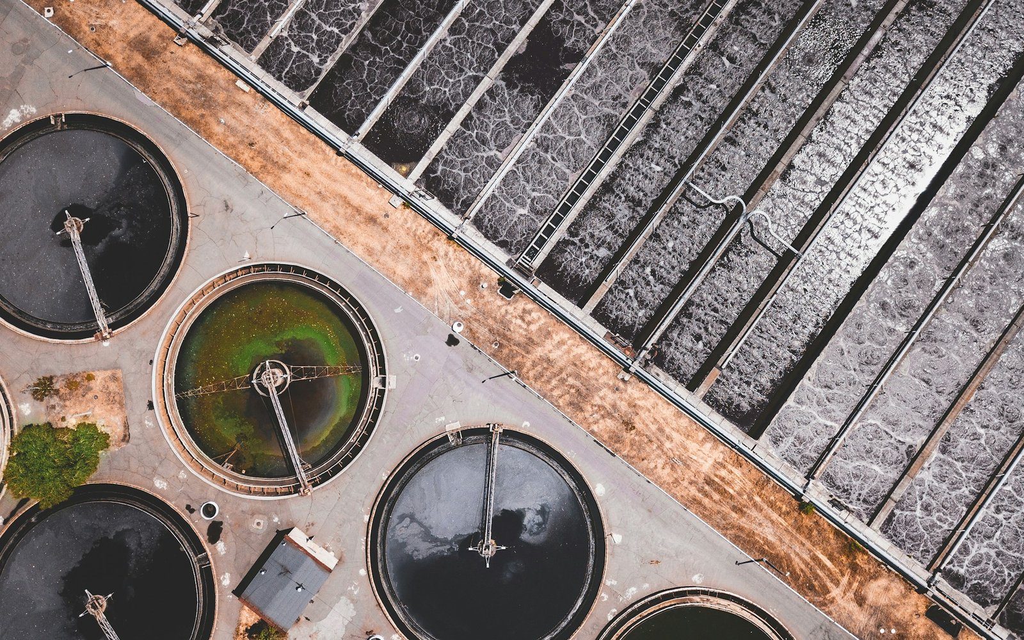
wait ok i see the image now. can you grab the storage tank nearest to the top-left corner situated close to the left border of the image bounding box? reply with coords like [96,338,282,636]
[0,110,191,344]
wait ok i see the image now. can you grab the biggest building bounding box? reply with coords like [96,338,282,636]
[238,528,338,633]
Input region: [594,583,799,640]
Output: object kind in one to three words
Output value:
storage tank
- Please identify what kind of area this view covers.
industrial area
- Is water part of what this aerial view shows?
Yes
